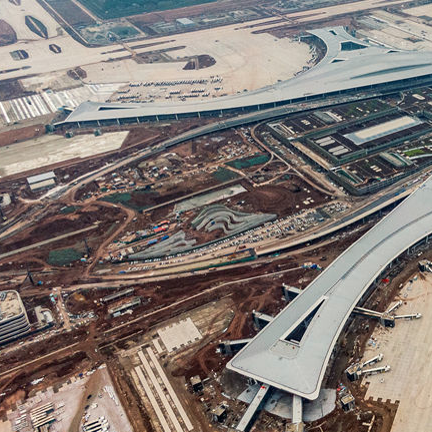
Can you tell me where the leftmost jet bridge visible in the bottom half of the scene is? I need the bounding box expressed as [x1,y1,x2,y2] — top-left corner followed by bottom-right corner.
[217,337,251,356]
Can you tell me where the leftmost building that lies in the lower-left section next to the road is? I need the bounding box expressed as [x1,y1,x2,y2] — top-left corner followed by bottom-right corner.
[0,289,31,346]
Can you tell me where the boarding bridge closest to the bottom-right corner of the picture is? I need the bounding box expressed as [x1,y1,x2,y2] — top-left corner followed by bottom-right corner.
[336,353,392,378]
